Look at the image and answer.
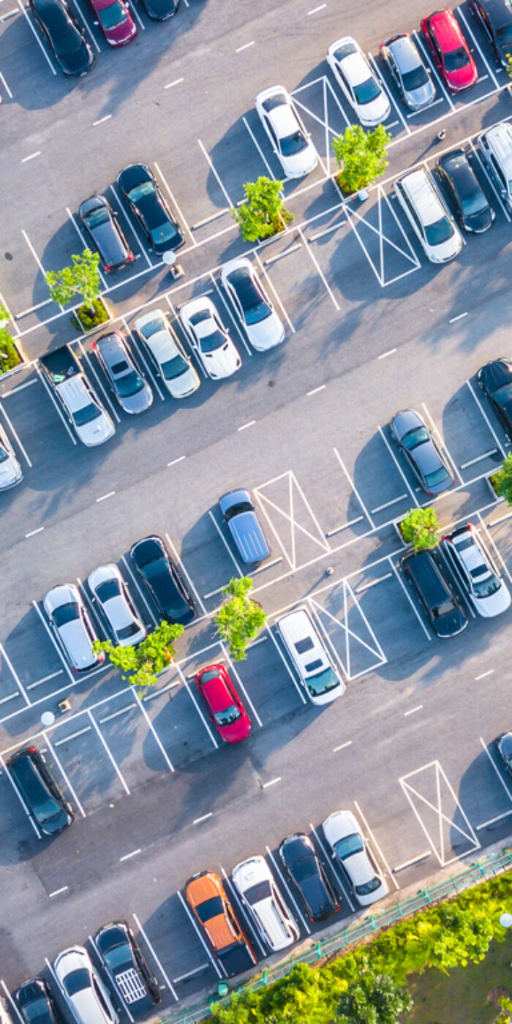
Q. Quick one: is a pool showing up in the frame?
No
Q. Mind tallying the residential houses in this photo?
0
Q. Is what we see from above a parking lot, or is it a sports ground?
parking lot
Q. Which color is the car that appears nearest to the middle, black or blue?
blue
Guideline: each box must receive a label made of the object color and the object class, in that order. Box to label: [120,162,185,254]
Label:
blue car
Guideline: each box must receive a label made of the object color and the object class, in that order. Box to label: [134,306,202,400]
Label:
white car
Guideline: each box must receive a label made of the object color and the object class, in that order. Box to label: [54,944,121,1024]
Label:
white car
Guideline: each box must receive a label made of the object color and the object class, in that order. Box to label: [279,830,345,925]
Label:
blue car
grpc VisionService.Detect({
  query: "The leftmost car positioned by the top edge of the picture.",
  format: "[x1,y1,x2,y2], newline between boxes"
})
[23,0,90,80]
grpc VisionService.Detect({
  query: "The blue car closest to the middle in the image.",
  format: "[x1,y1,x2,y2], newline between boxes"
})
[218,486,273,565]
